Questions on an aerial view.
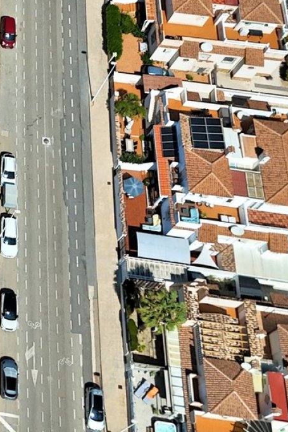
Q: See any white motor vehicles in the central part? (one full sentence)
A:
No, I see no white motor vehicle in the central part.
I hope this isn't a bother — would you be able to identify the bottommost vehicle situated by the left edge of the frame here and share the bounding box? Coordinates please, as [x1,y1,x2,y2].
[0,356,19,402]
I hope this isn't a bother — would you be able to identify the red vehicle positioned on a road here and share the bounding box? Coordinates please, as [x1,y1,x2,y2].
[0,15,18,50]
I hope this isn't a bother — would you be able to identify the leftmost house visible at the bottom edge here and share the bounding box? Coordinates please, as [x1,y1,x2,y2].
[165,285,263,432]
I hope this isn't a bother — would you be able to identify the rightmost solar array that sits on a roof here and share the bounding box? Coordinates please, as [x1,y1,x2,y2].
[190,117,225,148]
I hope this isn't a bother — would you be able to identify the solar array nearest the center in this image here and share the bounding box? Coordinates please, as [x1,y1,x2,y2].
[158,123,175,165]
